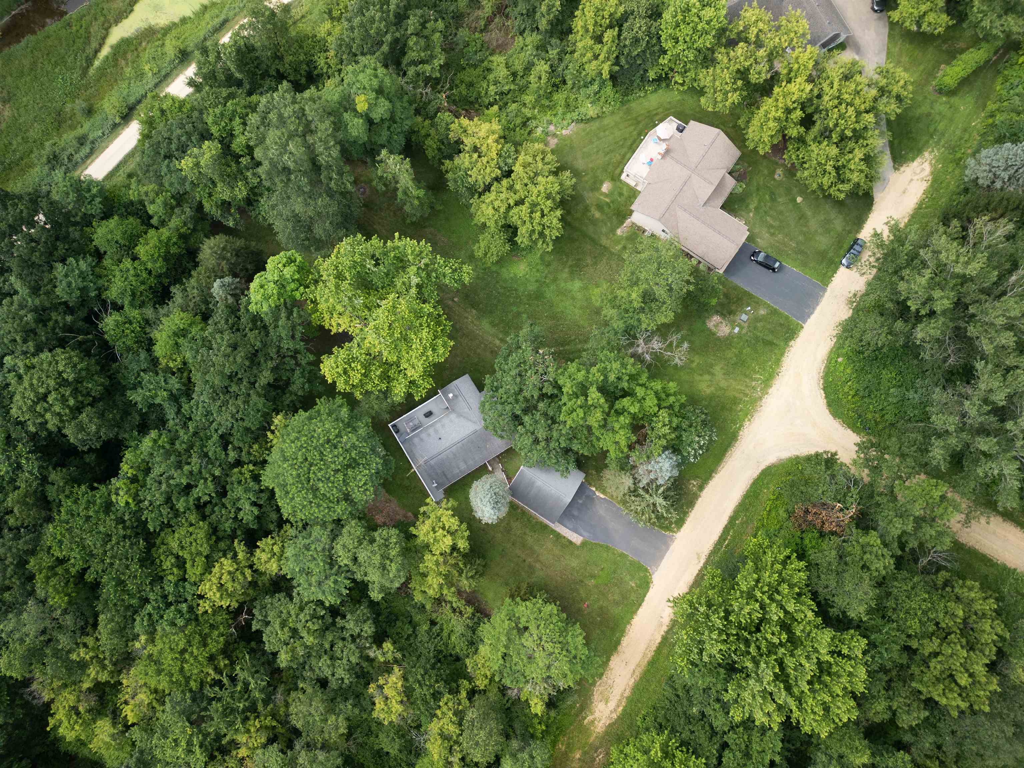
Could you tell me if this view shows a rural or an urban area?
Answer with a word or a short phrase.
rural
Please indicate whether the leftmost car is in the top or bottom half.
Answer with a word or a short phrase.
top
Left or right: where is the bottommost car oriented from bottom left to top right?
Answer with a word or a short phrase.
right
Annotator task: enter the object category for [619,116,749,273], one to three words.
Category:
house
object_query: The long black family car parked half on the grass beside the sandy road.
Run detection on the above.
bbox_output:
[841,238,866,269]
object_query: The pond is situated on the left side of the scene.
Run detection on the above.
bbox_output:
[86,0,205,74]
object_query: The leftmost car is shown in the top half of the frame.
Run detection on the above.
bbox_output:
[751,251,782,271]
